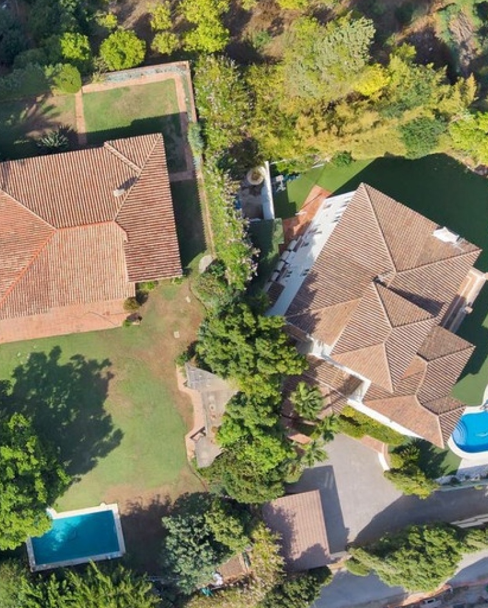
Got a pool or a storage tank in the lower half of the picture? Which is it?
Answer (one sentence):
There is a pool in the lower half of the picture.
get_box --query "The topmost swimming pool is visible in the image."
[446,386,488,464]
